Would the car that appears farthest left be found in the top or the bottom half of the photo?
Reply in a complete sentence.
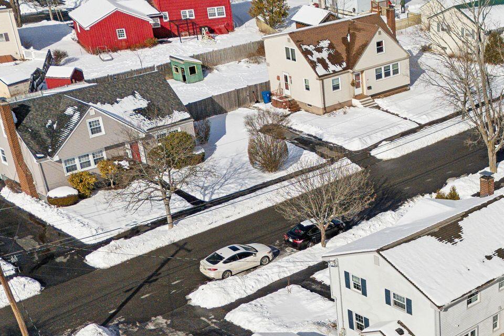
The car that appears farthest left is in the bottom half of the image.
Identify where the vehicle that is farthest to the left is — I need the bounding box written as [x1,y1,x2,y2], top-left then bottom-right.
[196,247,270,281]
